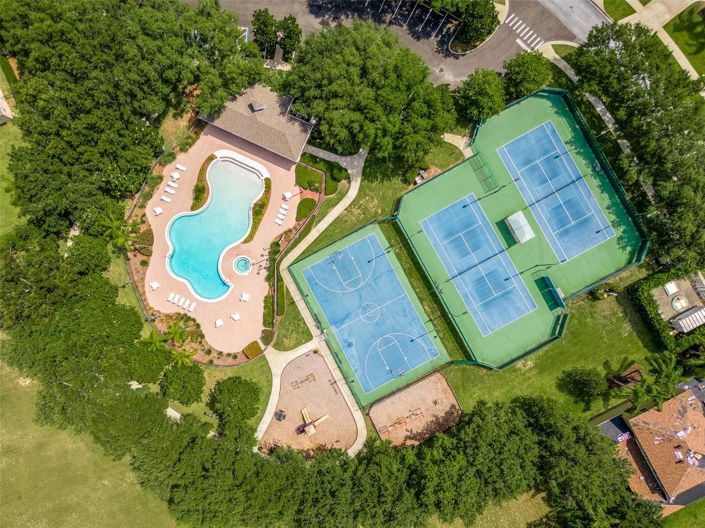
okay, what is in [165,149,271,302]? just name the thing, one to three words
swimming pool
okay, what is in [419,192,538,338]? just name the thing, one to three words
tennis court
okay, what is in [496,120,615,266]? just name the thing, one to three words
tennis court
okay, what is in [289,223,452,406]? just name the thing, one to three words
basketball court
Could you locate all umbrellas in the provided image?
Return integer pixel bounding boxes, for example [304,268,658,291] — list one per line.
[170,171,181,182]
[240,293,249,302]
[214,318,224,327]
[153,205,164,217]
[149,279,160,291]
[283,191,293,201]
[230,311,241,322]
